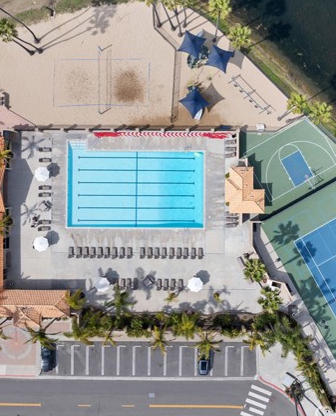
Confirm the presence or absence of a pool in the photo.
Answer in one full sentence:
Yes, this view includes a pool.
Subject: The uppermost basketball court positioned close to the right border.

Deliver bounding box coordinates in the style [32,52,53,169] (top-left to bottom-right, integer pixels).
[240,117,336,220]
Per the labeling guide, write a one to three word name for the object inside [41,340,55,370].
car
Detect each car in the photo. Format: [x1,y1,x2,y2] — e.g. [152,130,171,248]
[198,345,211,374]
[41,340,55,370]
